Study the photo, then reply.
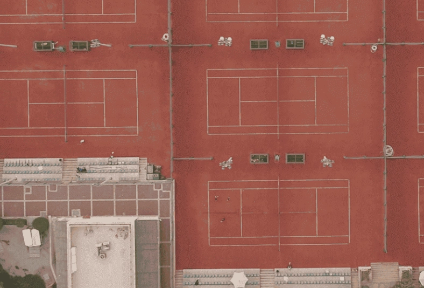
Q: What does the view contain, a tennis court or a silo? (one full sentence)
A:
It is a tennis court that can be seen here.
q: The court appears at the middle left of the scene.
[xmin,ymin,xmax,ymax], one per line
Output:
[0,45,175,184]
